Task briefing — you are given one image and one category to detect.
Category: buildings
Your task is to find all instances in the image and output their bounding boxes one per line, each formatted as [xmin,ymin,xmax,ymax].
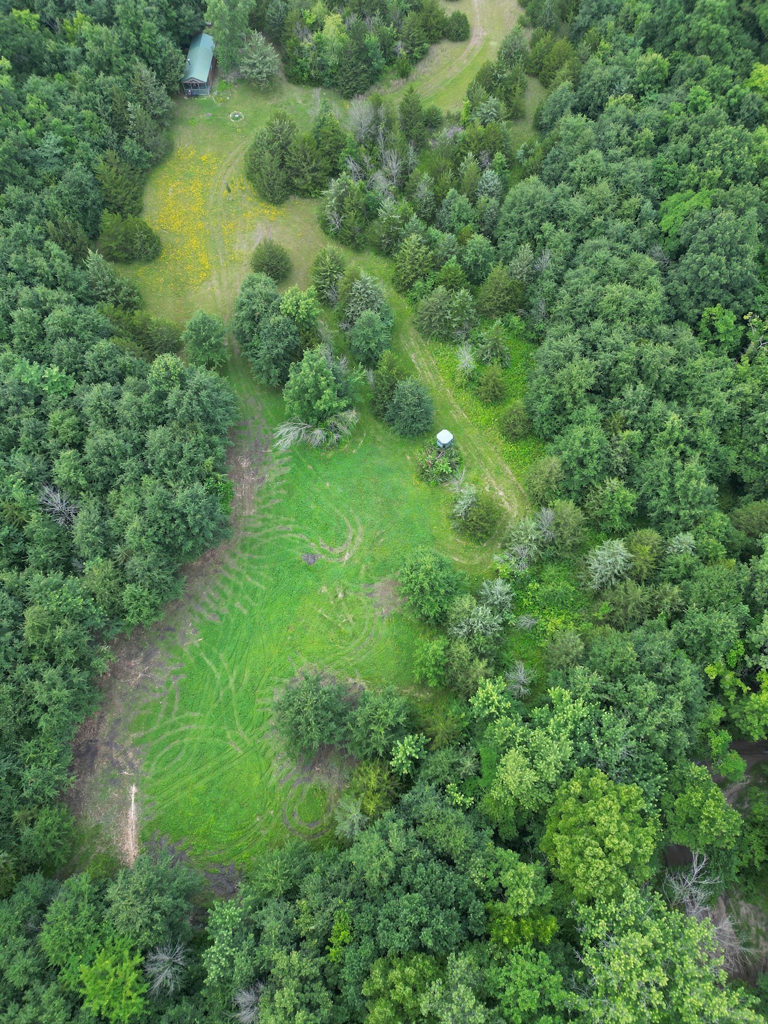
[436,429,453,452]
[181,31,214,96]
